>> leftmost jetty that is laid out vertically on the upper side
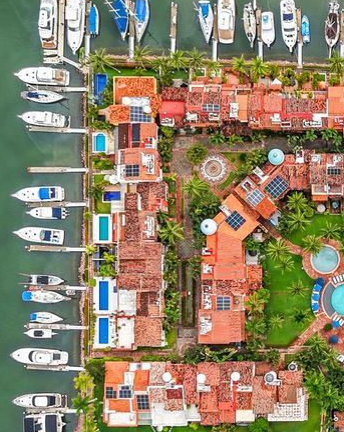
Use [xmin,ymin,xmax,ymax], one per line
[59,0,85,71]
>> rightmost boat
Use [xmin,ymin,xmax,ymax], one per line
[324,2,339,57]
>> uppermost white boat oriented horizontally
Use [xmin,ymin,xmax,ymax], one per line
[13,62,71,86]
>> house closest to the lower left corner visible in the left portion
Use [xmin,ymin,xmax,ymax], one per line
[104,360,158,426]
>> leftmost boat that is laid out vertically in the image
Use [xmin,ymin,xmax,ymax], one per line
[36,0,60,51]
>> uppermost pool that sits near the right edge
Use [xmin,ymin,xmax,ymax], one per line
[310,245,340,275]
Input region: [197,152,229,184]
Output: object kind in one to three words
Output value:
fountain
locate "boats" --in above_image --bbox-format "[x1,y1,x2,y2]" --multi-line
[122,0,149,43]
[88,4,100,39]
[21,290,71,302]
[16,111,72,129]
[10,185,67,203]
[300,16,310,46]
[23,415,70,432]
[102,0,129,41]
[280,0,299,51]
[61,0,87,52]
[27,312,63,324]
[260,10,275,47]
[13,62,71,86]
[324,2,339,57]
[21,83,63,103]
[25,207,67,221]
[192,2,212,43]
[9,393,66,409]
[240,5,256,47]
[12,225,67,245]
[215,0,236,48]
[28,275,64,287]
[25,328,56,339]
[36,0,60,51]
[7,347,73,366]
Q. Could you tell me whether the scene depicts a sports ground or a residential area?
residential area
